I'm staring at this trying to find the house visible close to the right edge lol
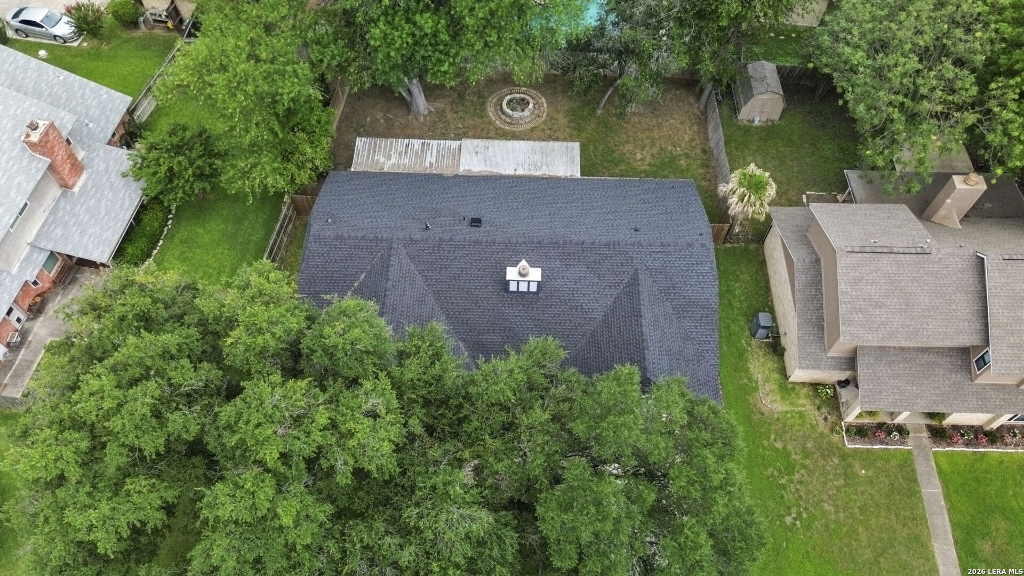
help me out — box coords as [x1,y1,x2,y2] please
[765,173,1024,430]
